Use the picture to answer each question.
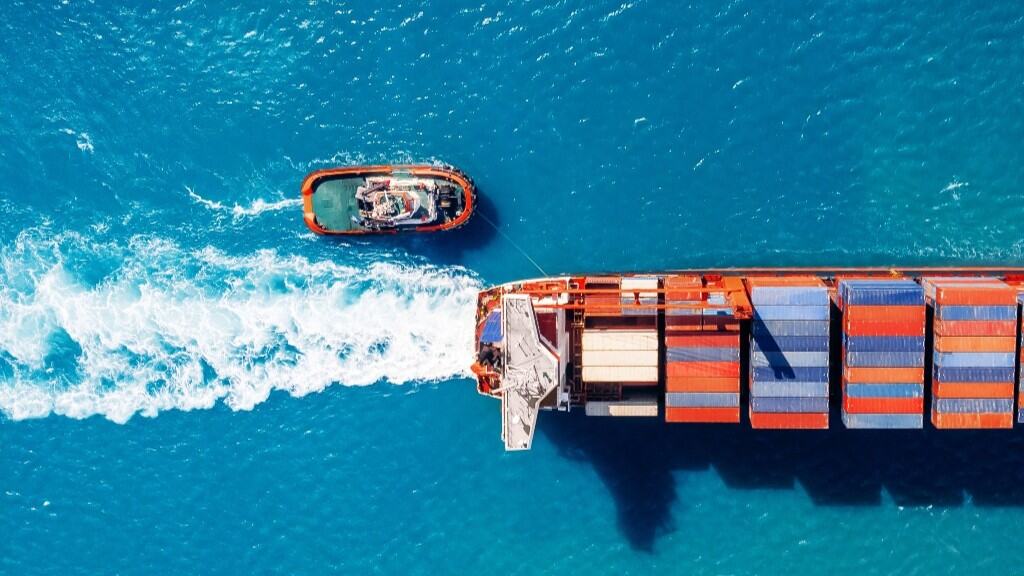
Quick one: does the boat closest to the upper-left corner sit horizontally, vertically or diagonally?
horizontally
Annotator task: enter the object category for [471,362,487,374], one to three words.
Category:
boat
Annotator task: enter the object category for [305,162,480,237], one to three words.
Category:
boat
